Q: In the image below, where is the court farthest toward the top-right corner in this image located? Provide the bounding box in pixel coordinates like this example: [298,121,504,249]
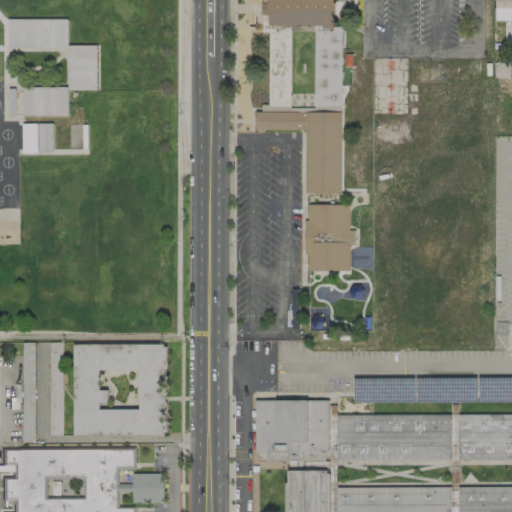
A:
[374,58,408,114]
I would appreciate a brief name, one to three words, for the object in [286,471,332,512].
building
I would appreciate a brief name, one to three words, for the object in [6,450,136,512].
building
